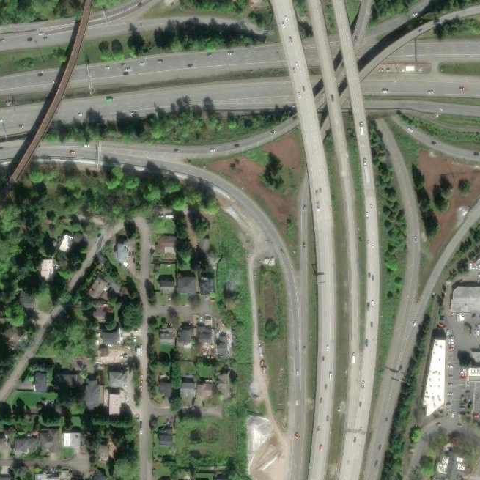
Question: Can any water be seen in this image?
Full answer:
No, there is no water in the image.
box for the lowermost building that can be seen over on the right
[435,455,466,479]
